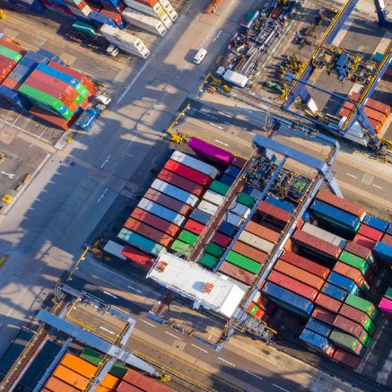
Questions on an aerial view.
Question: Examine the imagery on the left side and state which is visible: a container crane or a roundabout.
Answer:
container crane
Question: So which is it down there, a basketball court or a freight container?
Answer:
freight container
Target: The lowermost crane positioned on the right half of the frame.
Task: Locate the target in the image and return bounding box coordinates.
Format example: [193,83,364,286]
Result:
[136,112,351,354]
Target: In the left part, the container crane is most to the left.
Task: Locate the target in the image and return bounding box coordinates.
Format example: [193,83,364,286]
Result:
[0,280,159,392]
